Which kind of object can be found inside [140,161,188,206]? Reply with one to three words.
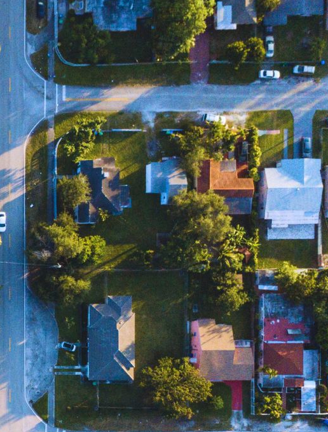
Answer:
house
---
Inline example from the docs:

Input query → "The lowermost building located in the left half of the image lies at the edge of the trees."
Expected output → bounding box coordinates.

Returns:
[85,295,136,382]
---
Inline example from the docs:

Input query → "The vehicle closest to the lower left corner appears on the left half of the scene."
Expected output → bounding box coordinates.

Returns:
[57,339,78,352]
